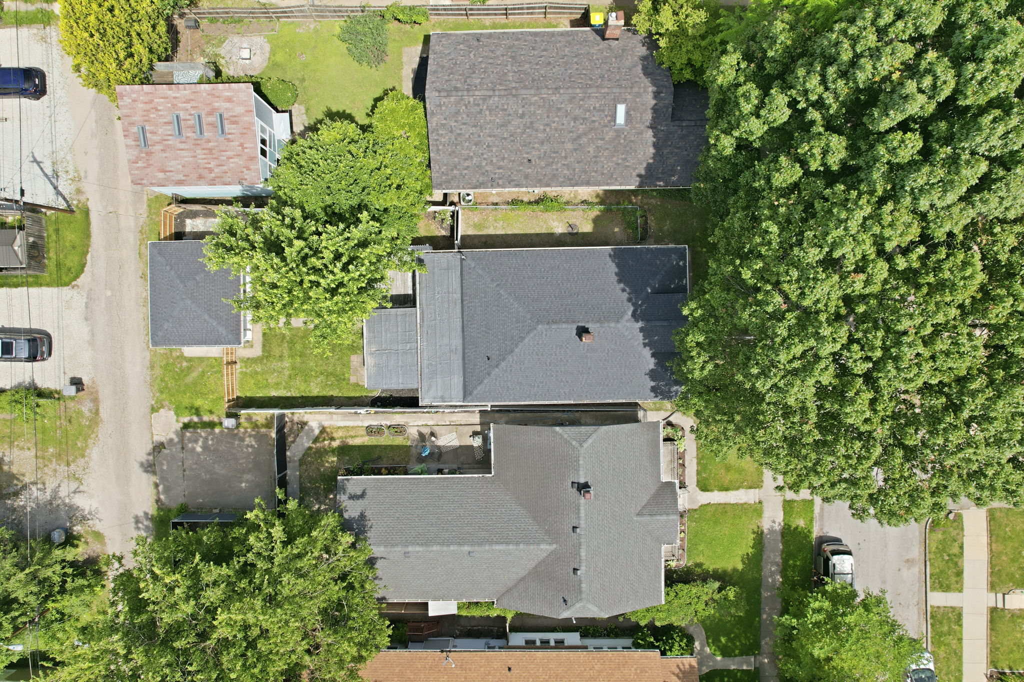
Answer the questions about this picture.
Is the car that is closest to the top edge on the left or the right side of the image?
left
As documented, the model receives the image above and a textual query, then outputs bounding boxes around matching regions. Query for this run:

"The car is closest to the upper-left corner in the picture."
[0,66,49,102]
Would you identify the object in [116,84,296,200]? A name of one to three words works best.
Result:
building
